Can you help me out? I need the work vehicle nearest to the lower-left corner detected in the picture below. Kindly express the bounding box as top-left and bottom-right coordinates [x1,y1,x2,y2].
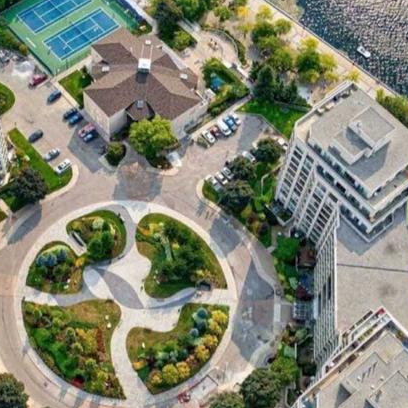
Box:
[171,391,191,404]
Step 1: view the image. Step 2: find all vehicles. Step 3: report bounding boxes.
[230,113,243,125]
[30,75,45,86]
[209,125,222,137]
[62,107,77,119]
[69,113,83,124]
[171,391,191,404]
[10,53,26,64]
[275,136,288,148]
[44,149,60,161]
[83,132,98,143]
[56,161,71,173]
[216,119,232,135]
[28,131,43,142]
[221,167,235,179]
[224,117,237,130]
[201,129,215,143]
[47,92,61,102]
[209,176,221,189]
[215,171,229,184]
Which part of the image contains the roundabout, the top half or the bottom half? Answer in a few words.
bottom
